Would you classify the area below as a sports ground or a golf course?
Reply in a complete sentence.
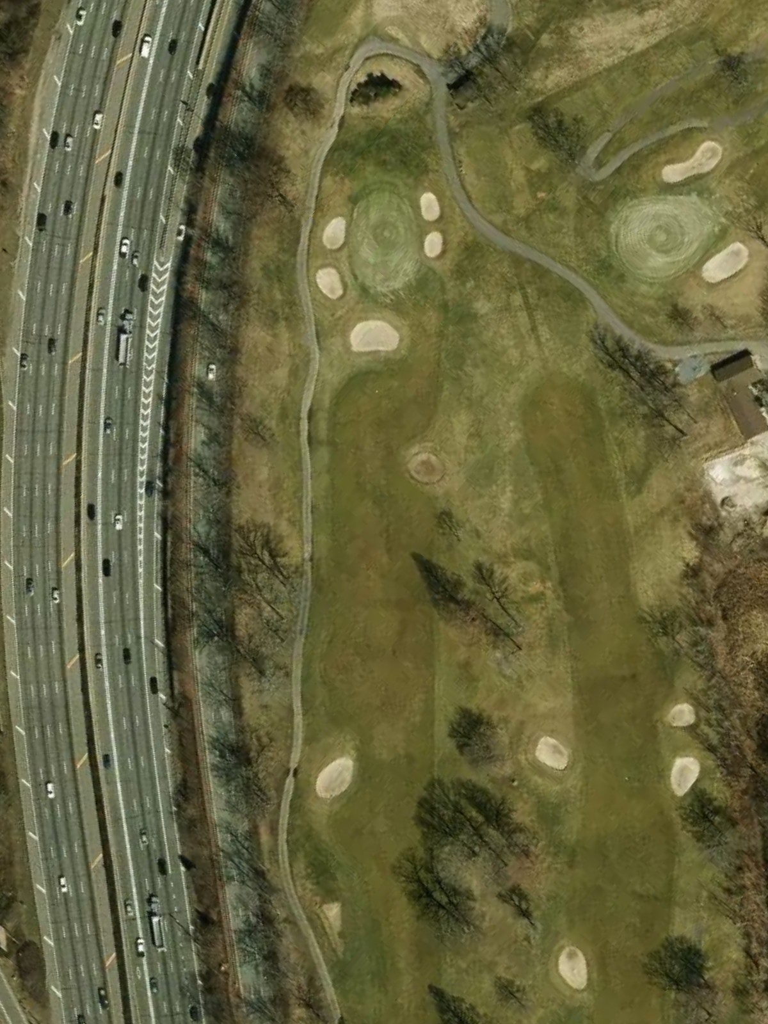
This looks like a golf course.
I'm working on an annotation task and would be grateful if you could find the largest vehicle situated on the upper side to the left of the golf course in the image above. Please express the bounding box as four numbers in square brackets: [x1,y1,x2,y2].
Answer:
[119,310,133,368]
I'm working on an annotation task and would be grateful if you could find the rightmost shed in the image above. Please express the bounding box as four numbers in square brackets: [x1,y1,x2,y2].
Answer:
[711,347,754,382]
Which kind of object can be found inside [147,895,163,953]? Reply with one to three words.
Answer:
vehicle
